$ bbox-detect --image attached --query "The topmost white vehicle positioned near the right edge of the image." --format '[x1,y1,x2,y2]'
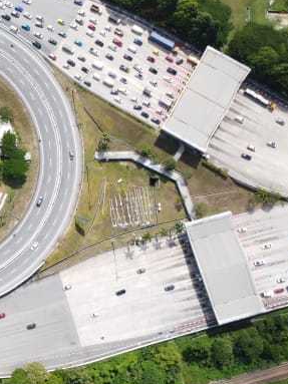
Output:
[243,88,277,109]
